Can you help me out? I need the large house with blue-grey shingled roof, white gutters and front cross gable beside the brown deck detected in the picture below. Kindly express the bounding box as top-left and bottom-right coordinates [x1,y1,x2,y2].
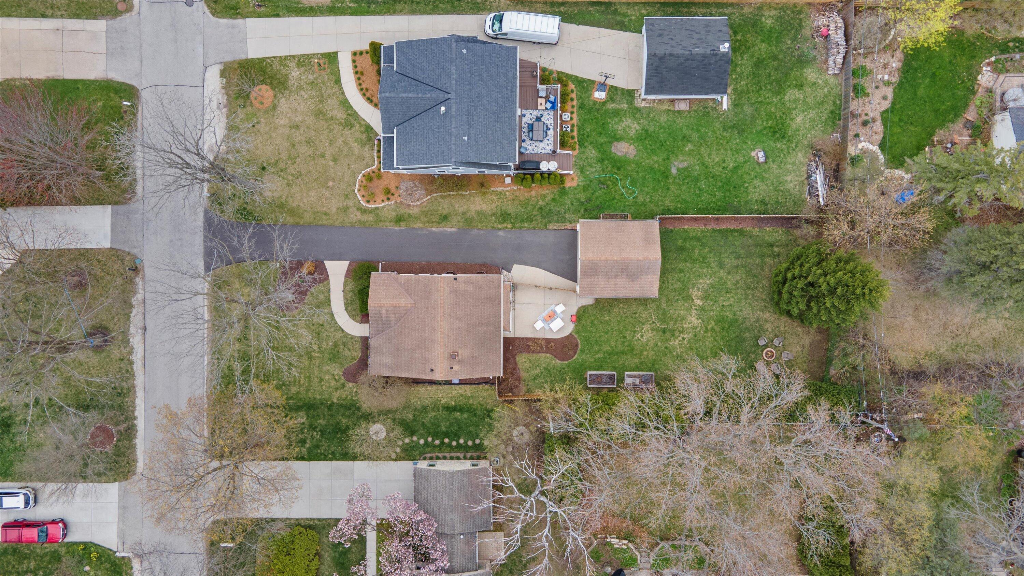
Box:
[378,33,521,178]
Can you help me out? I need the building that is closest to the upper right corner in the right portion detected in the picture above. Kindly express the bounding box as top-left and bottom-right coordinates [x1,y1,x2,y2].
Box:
[990,106,1024,191]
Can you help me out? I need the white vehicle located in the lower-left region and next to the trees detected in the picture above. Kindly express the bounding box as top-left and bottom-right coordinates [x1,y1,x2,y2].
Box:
[0,484,38,510]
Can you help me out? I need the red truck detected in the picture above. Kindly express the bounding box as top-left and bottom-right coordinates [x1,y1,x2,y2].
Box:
[0,516,67,546]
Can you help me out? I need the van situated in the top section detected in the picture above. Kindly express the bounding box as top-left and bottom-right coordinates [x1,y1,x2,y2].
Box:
[486,11,560,47]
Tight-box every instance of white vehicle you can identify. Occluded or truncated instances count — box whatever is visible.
[486,11,560,47]
[0,484,38,510]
